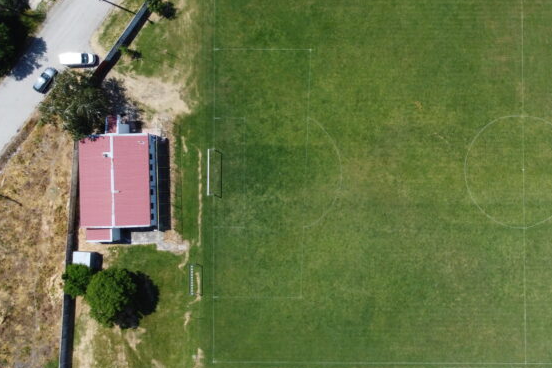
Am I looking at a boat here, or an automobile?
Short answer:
automobile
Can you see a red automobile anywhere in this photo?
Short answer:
No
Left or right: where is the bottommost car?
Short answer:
left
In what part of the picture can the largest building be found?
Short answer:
left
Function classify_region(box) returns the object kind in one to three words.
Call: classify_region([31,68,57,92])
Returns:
car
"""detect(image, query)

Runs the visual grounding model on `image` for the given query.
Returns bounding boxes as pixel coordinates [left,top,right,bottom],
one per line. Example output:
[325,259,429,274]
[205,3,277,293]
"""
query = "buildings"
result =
[73,249,99,267]
[79,116,158,239]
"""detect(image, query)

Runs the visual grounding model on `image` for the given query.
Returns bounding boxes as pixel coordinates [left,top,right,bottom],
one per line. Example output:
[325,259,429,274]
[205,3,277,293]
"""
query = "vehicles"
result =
[55,51,95,66]
[31,68,57,92]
